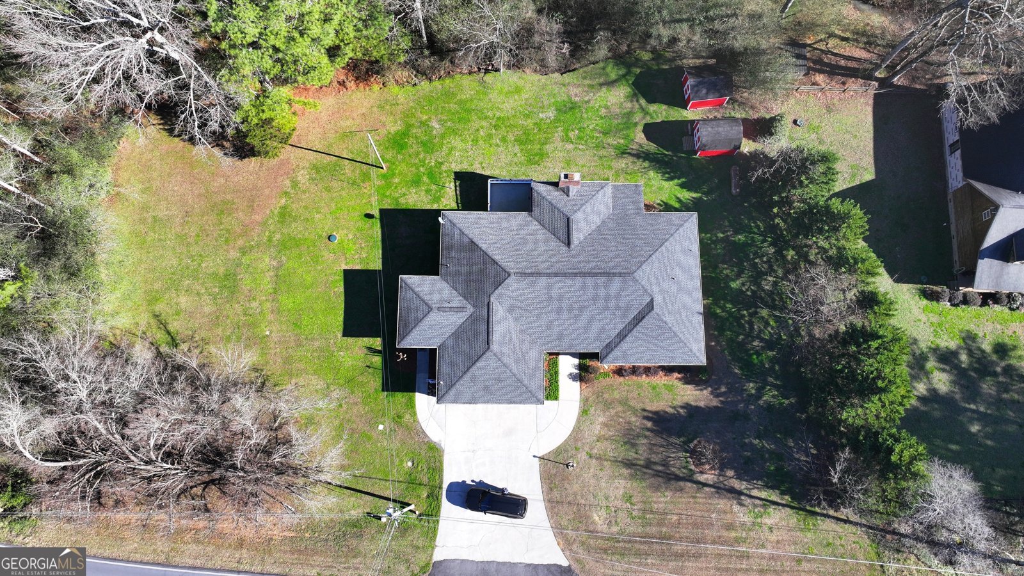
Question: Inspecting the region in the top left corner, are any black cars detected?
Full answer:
No, there is no black car in the top left corner.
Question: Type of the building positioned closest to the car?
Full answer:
Specifically, the building positioned closest to the car is a home.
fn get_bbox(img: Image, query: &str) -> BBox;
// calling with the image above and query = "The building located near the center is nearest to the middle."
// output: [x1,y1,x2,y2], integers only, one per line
[394,172,708,405]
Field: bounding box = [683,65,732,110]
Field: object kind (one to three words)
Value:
shed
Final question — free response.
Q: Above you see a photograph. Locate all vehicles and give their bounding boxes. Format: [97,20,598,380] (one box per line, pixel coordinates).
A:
[466,487,529,520]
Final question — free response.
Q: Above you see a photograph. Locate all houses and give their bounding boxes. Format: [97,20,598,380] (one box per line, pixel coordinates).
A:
[934,58,1024,294]
[394,172,708,405]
